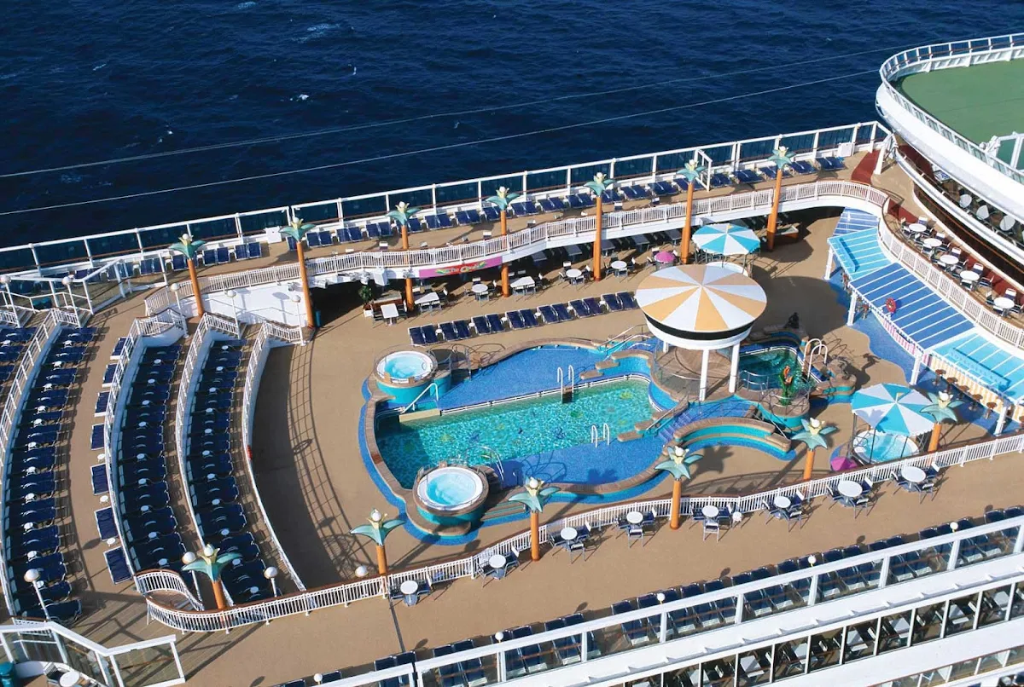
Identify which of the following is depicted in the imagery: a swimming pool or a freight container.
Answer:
swimming pool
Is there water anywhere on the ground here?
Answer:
Yes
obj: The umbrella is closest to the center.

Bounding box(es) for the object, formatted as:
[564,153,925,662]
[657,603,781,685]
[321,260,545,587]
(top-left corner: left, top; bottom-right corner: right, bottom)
[647,250,680,272]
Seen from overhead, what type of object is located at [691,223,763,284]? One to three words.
umbrella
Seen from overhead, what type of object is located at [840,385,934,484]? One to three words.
umbrella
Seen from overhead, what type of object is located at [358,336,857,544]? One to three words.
swimming pool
